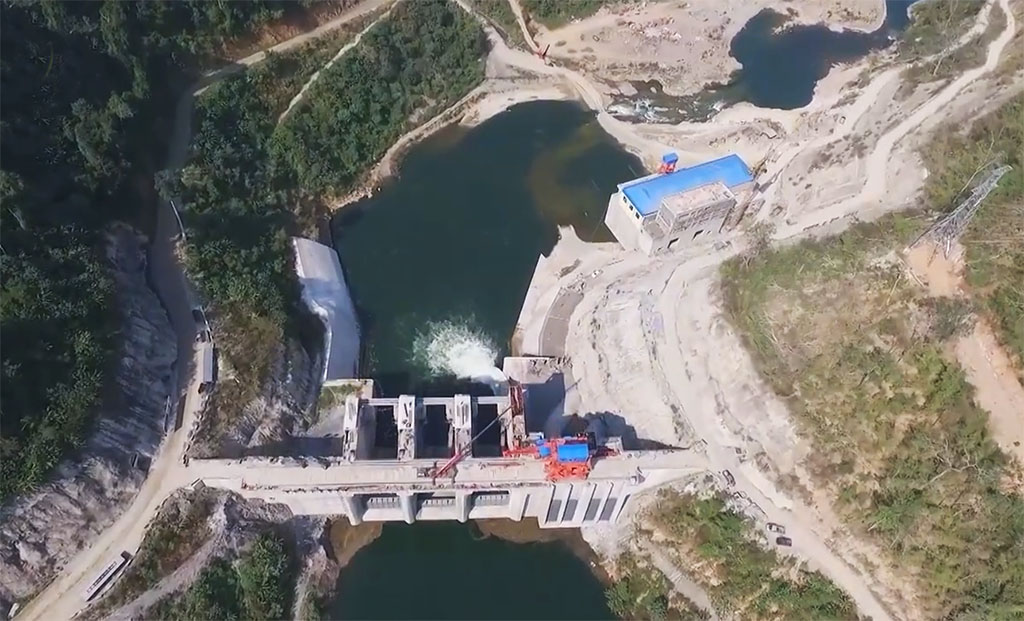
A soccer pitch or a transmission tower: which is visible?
transmission tower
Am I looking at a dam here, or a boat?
dam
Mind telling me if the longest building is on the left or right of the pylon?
to the left of it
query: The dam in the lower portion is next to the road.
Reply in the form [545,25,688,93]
[187,378,703,530]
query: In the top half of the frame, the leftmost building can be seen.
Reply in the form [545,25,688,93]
[603,150,758,260]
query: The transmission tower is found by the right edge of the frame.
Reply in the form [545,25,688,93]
[910,161,1011,265]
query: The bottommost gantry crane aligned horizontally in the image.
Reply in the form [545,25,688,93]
[516,439,618,483]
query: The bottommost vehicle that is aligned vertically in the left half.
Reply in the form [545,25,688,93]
[195,331,211,394]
